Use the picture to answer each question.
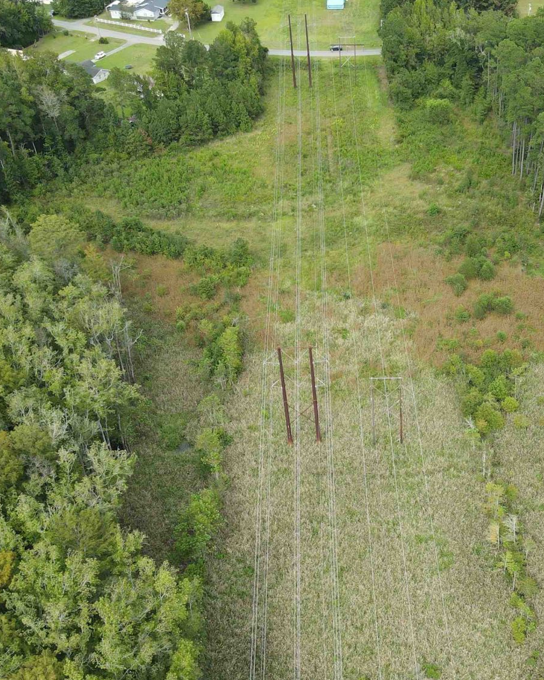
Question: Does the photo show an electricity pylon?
Yes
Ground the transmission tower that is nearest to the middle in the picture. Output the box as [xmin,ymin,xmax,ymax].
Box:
[262,346,328,443]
